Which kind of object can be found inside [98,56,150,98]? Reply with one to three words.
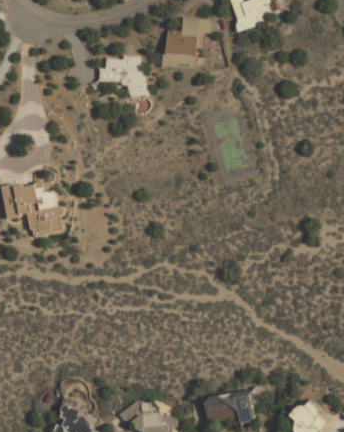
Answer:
house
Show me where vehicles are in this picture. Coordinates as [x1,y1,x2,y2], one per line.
[44,394,50,404]
[220,21,225,31]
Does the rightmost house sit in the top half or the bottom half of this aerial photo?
bottom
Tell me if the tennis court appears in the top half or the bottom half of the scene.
top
